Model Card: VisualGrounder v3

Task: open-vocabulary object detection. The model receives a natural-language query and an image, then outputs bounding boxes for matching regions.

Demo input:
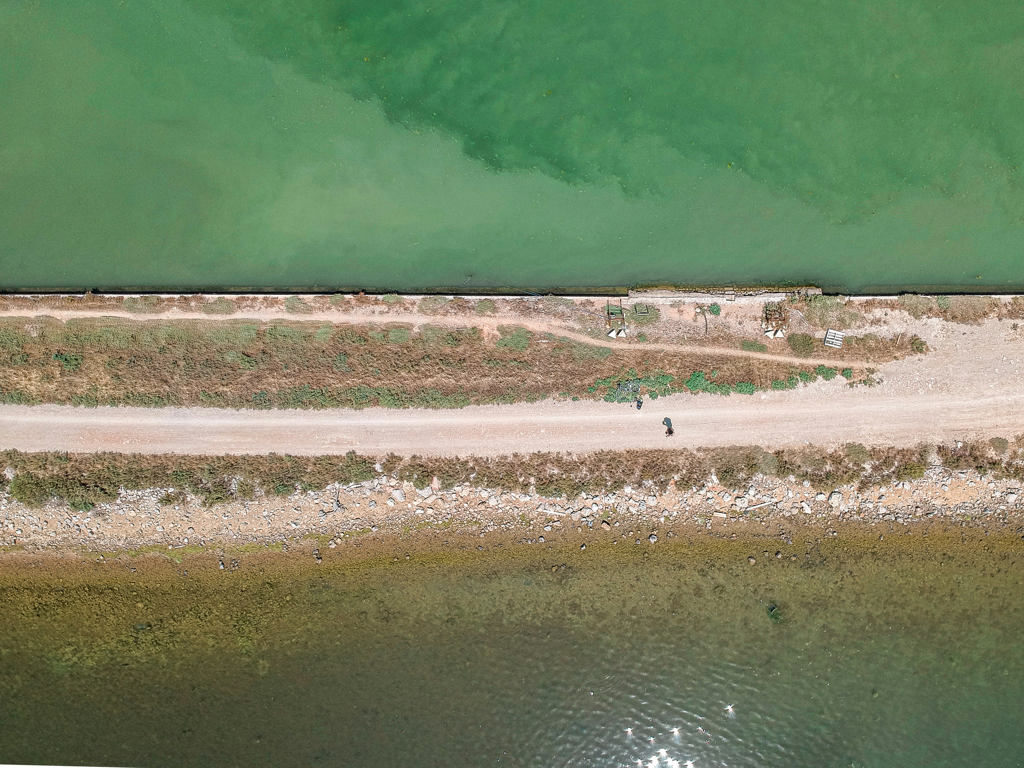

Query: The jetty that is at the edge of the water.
[627,285,822,304]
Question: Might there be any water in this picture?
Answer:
Yes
